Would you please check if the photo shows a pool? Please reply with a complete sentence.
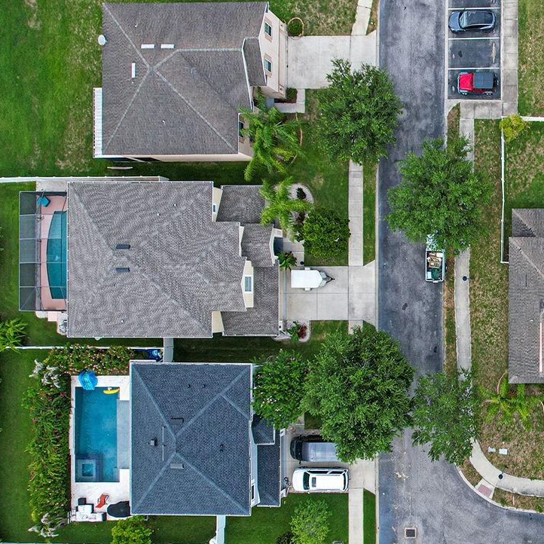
Yes, the picture does show a pool.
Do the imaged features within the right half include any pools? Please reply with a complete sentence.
No, no pool is visible within the right half.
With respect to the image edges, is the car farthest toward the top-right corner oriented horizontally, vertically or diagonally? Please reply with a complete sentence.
The car farthest toward the top-right corner is laid out horizontally.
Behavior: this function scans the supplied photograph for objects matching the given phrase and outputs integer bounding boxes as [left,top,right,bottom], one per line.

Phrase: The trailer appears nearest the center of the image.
[287,268,338,291]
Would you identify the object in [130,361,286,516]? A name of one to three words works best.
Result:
house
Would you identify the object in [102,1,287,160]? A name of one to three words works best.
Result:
house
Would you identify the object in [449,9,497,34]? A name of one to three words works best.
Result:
car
